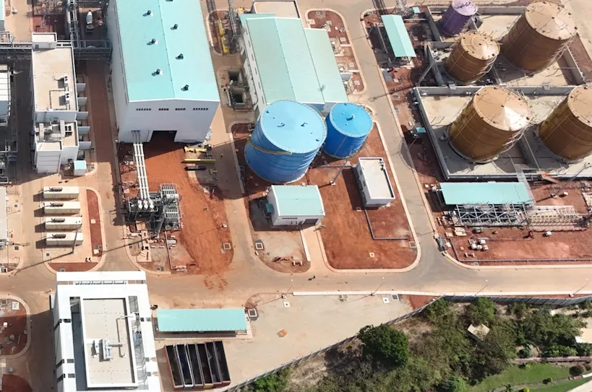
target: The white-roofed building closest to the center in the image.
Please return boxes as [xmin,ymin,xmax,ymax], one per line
[268,185,327,226]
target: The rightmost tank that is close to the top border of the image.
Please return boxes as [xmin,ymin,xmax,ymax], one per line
[501,0,579,73]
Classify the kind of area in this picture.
industrial area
